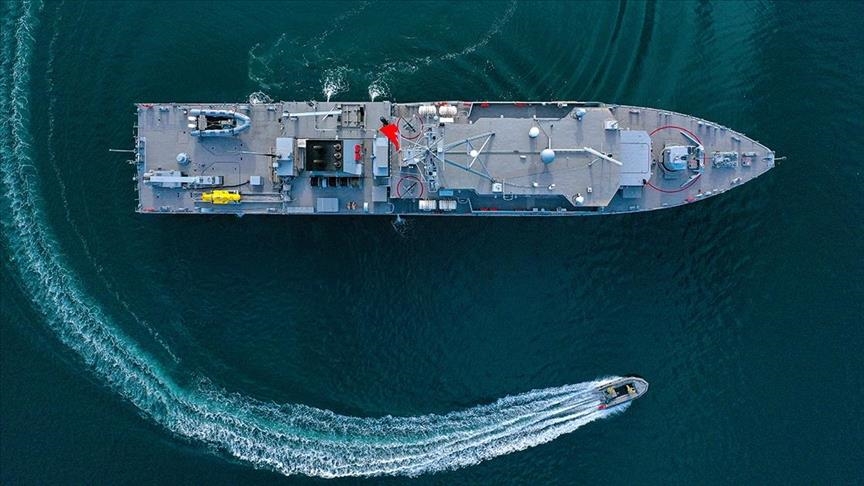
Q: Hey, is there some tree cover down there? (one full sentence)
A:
No, tree cover can't be seen anywhere here.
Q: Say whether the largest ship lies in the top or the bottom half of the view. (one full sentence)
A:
The largest ship sits in the top half of the picture.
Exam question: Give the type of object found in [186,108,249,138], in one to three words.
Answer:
boat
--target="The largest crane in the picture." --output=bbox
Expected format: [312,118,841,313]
[145,169,251,190]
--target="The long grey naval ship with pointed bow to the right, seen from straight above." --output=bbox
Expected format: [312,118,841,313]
[110,91,786,223]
